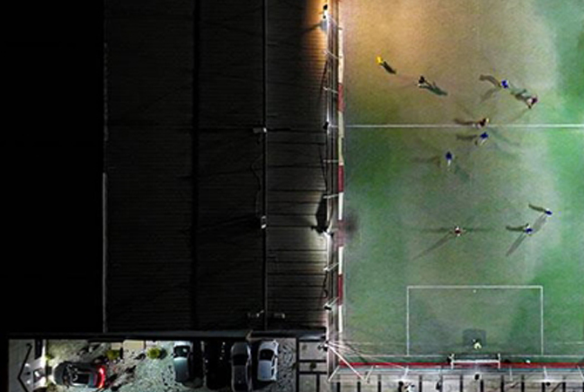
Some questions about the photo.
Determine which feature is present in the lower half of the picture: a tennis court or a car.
car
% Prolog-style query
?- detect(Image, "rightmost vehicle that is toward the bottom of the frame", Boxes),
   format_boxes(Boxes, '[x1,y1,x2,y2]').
[253,341,277,385]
